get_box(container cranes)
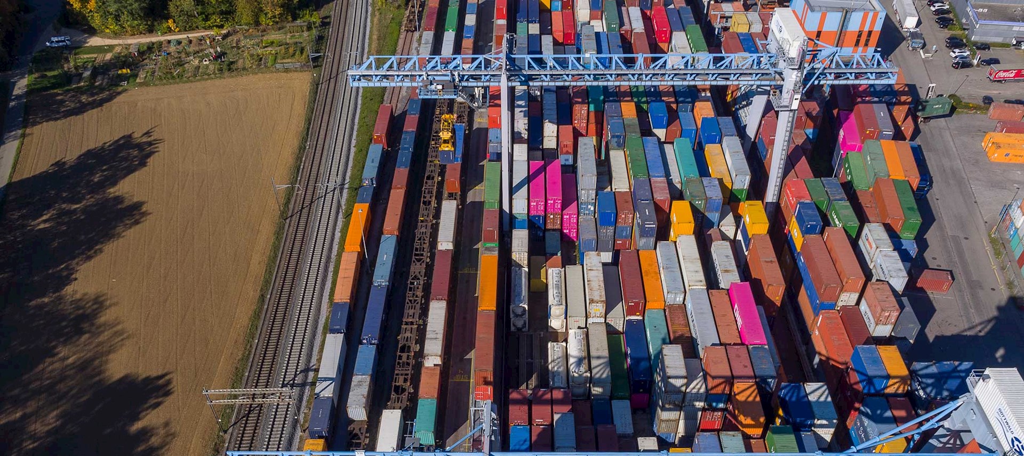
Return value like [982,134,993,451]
[236,361,1024,456]
[345,6,900,254]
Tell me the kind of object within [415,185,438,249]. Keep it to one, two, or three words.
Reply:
rail car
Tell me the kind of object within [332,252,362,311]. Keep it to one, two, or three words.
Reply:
shipping container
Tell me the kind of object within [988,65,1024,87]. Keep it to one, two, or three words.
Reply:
truck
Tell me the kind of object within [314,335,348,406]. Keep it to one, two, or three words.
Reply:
shipping container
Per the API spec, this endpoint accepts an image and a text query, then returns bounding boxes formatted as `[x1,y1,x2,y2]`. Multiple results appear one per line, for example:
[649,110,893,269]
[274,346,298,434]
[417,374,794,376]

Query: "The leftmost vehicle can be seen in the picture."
[47,33,70,46]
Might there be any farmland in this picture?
Yes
